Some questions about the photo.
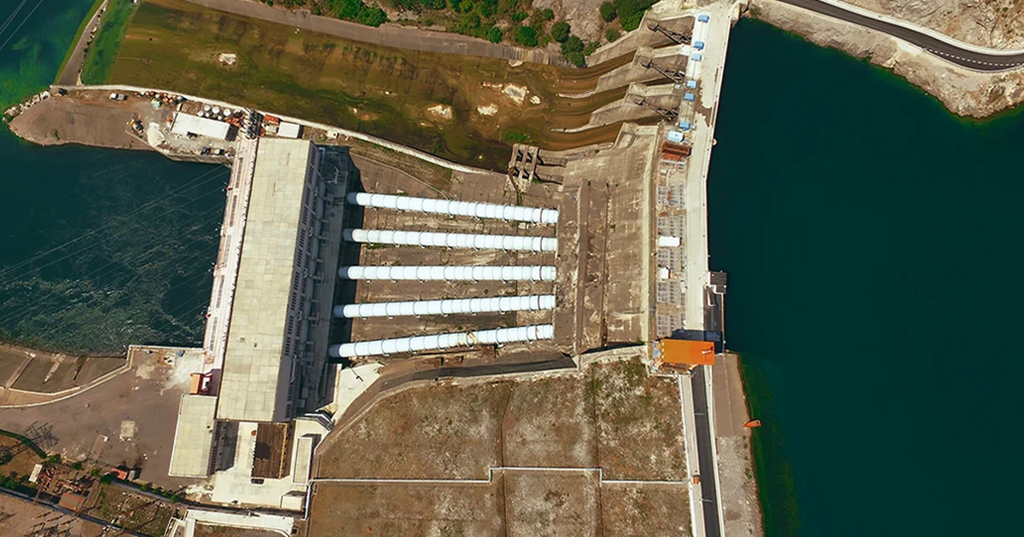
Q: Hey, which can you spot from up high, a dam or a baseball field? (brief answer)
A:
dam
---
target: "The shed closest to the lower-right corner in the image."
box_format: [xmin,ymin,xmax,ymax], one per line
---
[708,271,728,295]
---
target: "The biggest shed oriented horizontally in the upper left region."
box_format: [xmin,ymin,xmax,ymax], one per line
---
[172,113,234,142]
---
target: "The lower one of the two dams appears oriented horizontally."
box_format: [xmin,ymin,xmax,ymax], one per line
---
[313,354,692,537]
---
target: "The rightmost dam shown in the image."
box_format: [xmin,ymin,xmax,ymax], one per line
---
[553,0,738,351]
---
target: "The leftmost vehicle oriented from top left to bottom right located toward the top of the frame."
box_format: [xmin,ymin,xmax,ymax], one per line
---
[128,117,141,133]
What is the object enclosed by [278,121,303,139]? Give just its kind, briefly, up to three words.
shed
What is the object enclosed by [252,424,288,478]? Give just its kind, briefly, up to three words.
building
